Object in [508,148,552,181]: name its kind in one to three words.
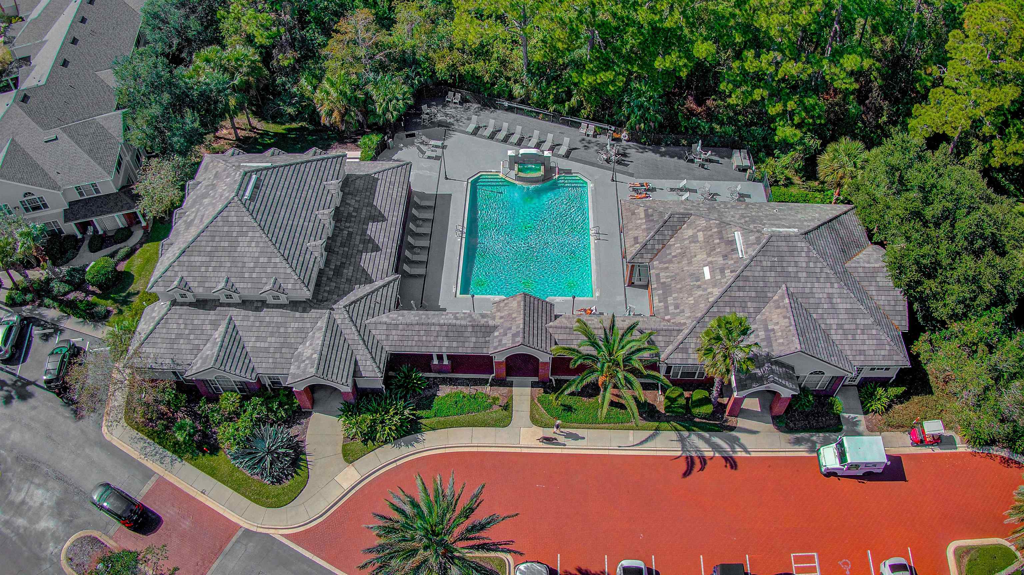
fountain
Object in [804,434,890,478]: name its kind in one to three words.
truck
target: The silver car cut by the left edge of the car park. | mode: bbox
[0,312,30,368]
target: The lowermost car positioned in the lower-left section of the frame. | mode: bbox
[84,483,158,541]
